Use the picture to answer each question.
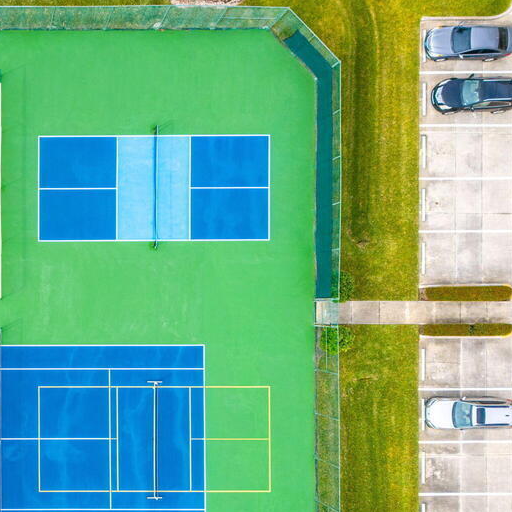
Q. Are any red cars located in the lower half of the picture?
No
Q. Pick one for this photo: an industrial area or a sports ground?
sports ground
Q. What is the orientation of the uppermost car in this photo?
horizontally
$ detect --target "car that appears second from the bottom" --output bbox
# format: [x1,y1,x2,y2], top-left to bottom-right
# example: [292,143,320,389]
[427,72,512,114]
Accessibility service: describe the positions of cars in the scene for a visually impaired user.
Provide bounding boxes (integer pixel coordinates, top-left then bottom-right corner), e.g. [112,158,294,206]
[427,72,512,114]
[423,395,512,434]
[422,20,511,62]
